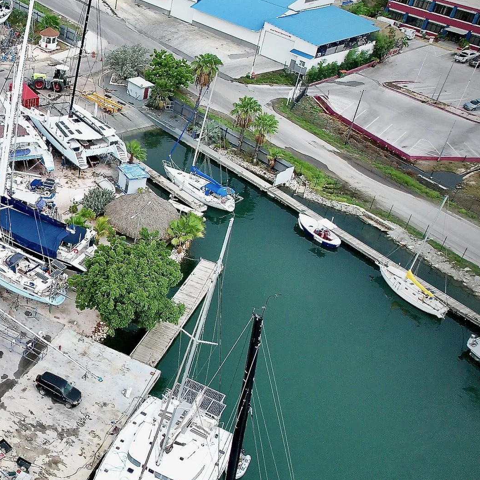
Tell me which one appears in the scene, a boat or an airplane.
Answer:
boat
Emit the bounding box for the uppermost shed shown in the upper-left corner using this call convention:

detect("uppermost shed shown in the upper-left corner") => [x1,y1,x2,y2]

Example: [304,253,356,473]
[33,29,64,57]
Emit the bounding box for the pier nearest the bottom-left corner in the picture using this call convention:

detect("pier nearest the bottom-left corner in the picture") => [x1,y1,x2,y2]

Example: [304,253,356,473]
[132,258,223,368]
